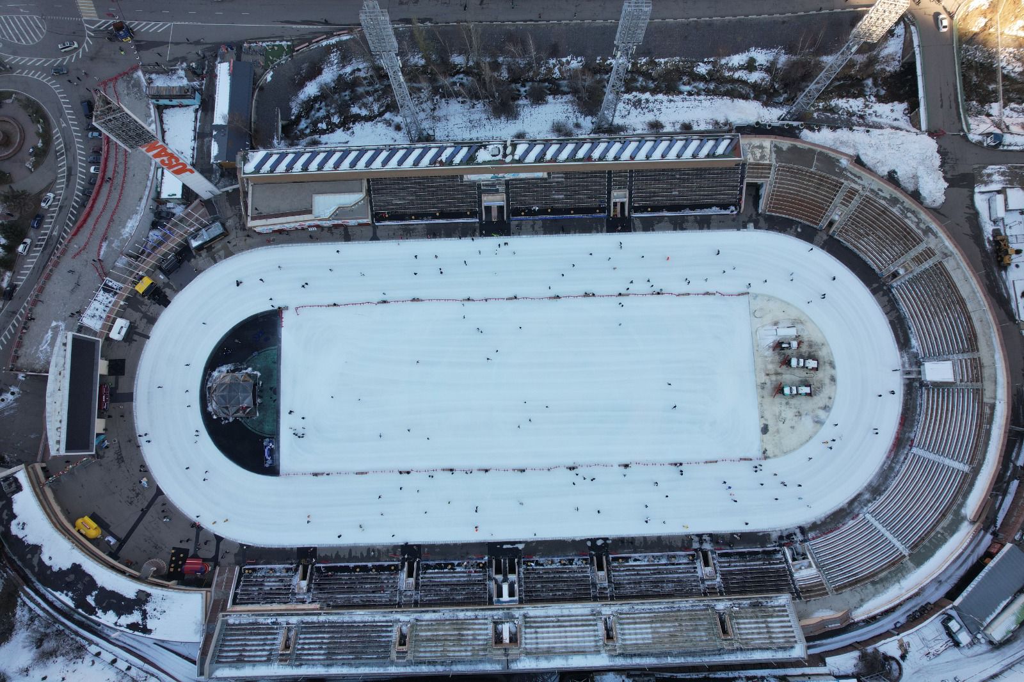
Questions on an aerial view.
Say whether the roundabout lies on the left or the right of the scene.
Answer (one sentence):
You can find the roundabout on the left side of the picture.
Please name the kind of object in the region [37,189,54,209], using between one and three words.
car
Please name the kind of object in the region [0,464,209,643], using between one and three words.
building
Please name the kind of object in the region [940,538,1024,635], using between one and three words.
building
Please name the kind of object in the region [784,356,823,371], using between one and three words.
vehicle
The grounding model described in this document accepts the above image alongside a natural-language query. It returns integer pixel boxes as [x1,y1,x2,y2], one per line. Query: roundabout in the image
[0,89,54,290]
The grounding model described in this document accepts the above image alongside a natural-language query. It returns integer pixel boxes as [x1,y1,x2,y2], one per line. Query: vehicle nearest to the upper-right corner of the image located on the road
[938,12,950,31]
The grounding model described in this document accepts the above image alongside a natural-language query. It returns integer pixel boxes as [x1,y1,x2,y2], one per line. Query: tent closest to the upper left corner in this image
[73,276,123,331]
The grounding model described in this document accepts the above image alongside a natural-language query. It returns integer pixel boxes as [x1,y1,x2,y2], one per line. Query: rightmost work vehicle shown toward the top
[995,231,1020,264]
